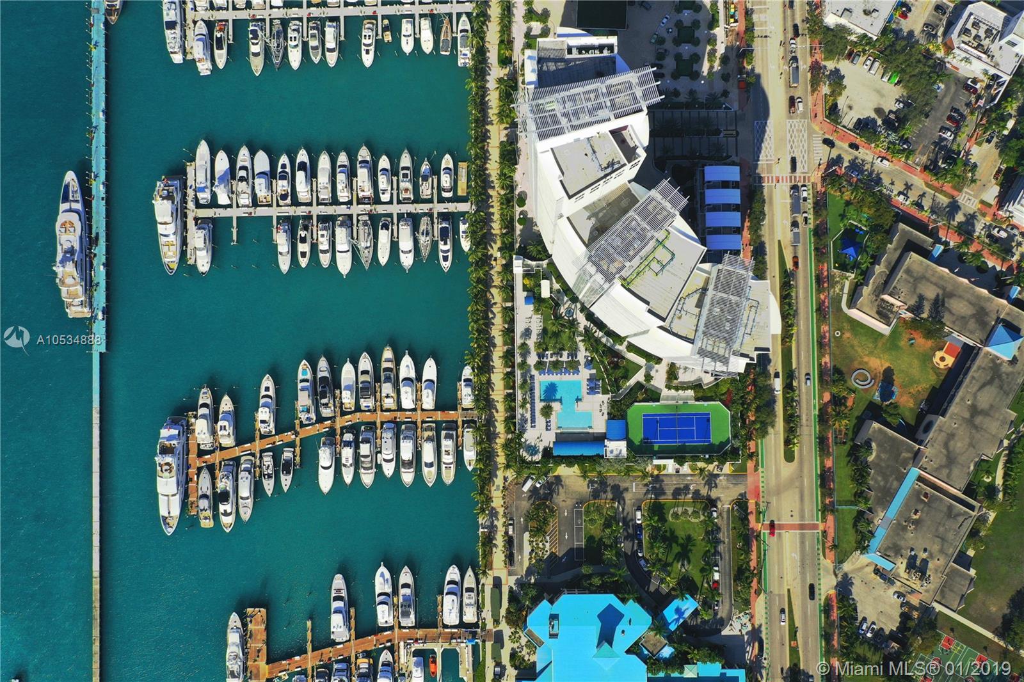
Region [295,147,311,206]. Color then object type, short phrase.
white boat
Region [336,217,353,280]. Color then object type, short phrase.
white boat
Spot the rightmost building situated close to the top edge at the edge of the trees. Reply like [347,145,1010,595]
[933,1,1024,111]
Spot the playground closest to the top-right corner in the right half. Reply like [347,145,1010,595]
[832,222,868,273]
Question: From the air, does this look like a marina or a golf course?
marina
